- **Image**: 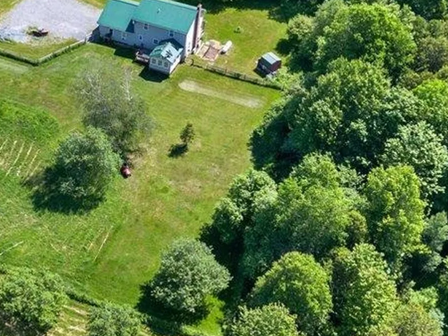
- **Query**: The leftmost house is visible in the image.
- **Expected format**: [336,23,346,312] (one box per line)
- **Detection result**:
[97,0,205,75]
